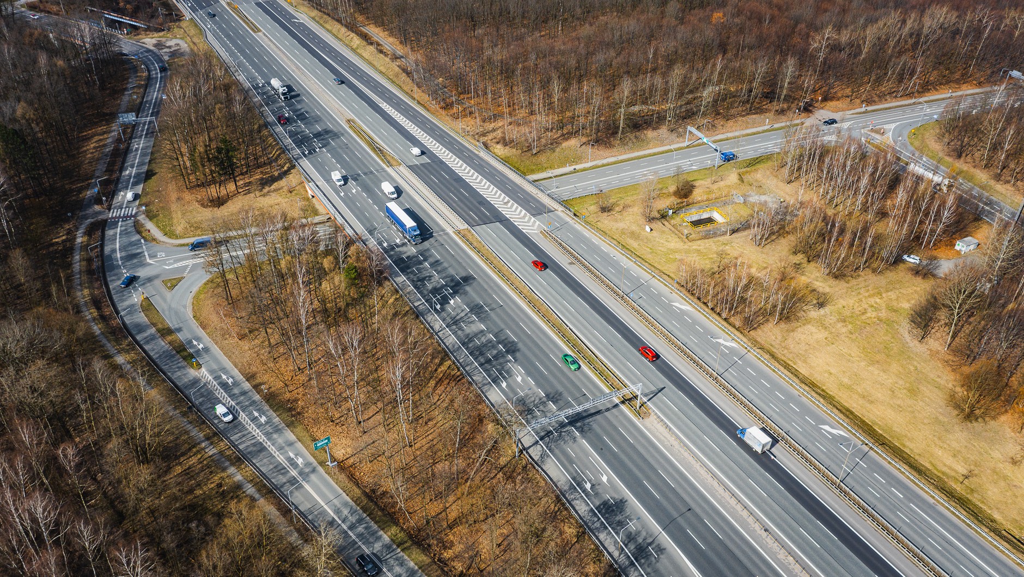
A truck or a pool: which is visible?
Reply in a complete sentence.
This aerial view contains a truck.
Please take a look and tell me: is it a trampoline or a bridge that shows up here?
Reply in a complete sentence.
There is a bridge in the scene.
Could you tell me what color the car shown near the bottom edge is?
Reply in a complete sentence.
In this view, the car shown near the bottom edge is black.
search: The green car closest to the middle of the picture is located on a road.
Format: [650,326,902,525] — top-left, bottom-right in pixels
[560,354,578,371]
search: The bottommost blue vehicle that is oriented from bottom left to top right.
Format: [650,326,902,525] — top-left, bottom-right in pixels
[118,274,136,286]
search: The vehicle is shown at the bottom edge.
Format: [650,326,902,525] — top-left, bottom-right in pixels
[352,551,376,576]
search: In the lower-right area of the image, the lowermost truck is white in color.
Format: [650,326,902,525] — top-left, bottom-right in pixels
[731,424,768,455]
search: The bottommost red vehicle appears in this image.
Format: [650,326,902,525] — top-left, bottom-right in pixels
[638,344,658,360]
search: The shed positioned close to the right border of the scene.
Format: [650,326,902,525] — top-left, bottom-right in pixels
[953,238,982,259]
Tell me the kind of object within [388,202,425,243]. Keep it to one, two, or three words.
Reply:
truck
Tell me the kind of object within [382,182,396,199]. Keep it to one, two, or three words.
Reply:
vehicle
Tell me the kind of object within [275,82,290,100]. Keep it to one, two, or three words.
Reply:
vehicle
